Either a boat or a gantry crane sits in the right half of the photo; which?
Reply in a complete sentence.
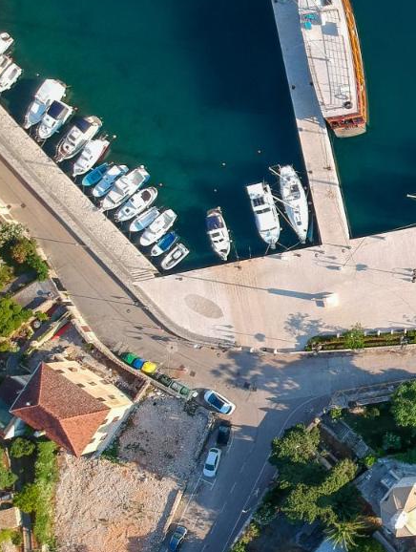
Looking in the right half of the photo, you will find a boat.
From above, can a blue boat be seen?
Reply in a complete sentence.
Yes, looking at the shot, I can spot a blue boat.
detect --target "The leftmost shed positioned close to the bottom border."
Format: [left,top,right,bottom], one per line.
[0,505,34,531]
